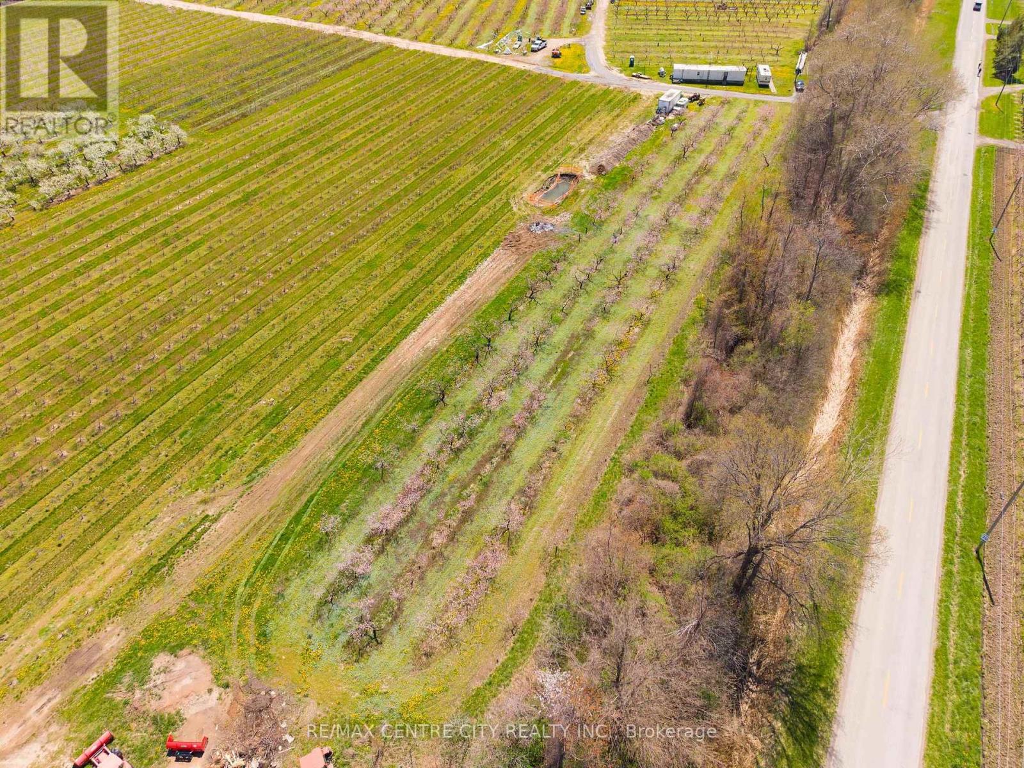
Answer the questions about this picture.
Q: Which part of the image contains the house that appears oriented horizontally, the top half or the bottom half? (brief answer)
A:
top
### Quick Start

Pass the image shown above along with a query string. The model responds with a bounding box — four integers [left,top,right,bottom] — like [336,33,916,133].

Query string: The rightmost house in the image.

[671,57,746,86]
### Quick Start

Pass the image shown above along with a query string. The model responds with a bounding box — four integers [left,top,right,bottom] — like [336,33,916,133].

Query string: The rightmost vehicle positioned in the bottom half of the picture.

[289,739,330,768]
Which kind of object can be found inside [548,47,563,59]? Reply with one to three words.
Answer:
vehicle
